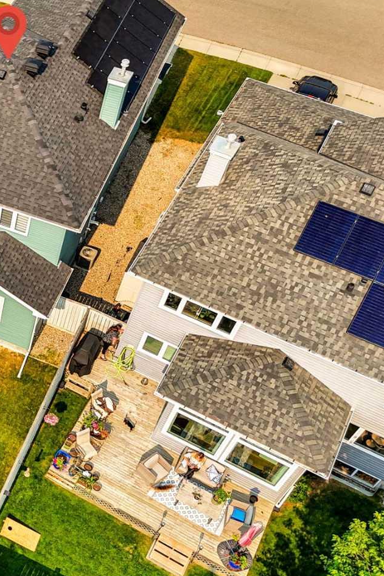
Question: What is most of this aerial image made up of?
buildings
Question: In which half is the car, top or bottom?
top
